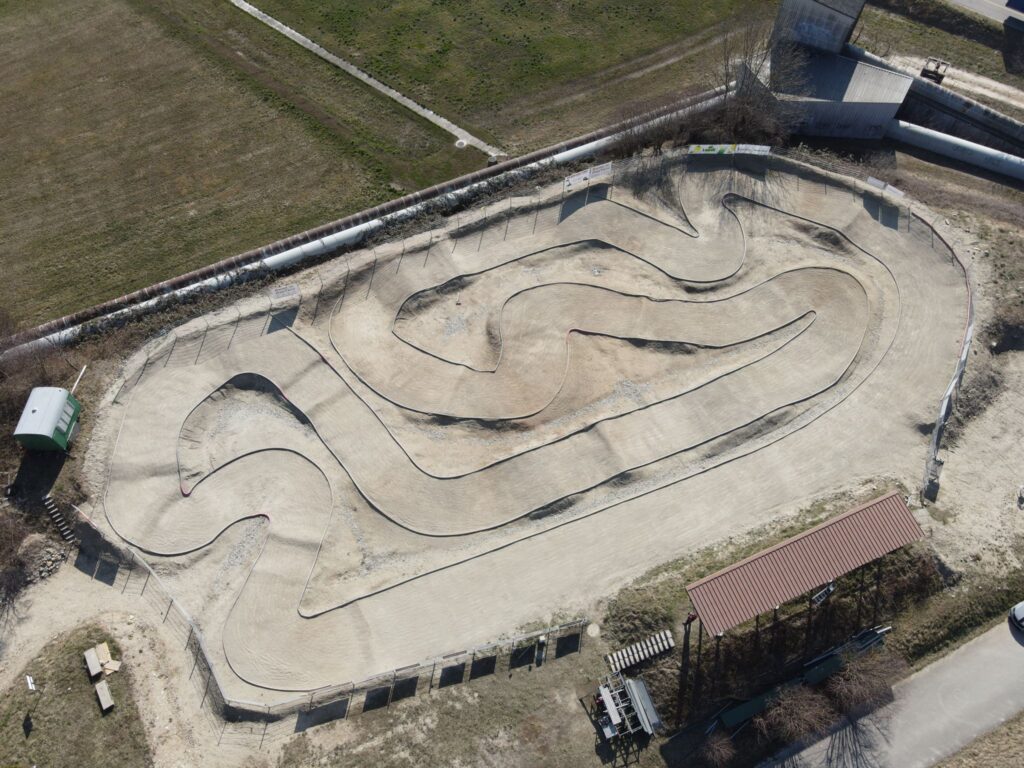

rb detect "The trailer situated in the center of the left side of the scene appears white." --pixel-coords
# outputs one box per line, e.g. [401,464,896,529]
[14,361,88,450]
